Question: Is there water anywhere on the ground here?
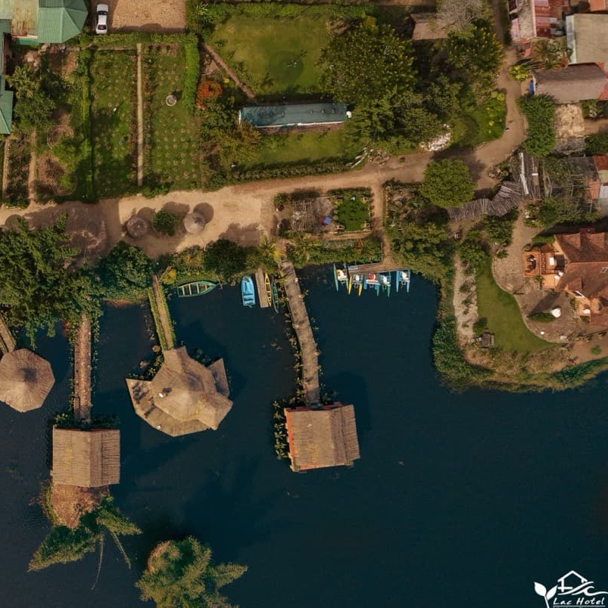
Yes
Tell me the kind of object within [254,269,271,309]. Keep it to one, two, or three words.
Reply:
pier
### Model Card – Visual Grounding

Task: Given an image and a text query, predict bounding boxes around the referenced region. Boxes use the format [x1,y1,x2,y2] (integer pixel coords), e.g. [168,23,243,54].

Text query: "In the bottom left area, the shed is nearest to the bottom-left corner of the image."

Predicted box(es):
[52,427,121,487]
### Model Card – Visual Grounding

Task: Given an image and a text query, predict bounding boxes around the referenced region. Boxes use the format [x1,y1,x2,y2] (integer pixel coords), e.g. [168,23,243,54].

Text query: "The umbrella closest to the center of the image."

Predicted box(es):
[182,211,206,234]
